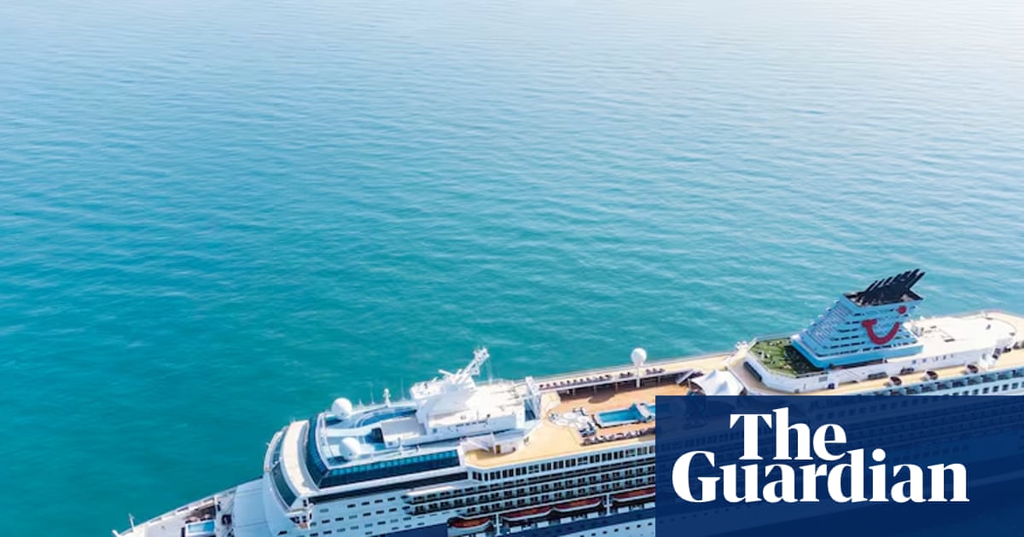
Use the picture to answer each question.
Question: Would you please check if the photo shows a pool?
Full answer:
Yes, there's a pool down there.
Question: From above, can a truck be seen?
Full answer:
No, this view has no truck in it.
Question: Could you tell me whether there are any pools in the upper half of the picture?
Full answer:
No, I can find no pool in the upper half of the picture.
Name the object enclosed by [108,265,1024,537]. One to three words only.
ship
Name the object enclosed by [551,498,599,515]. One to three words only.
boat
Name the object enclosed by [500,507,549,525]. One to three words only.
boat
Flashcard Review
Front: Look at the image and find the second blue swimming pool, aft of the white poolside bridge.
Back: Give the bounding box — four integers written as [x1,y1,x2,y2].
[643,398,697,424]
